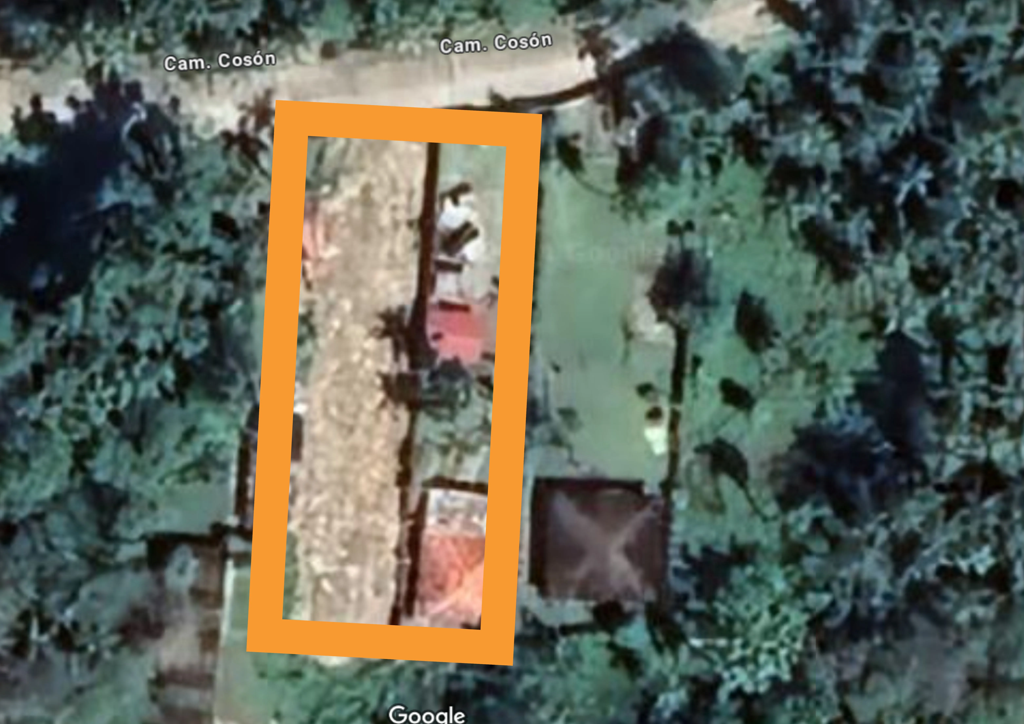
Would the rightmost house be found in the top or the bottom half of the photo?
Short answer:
bottom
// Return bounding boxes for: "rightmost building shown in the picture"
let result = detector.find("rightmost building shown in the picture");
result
[540,485,669,602]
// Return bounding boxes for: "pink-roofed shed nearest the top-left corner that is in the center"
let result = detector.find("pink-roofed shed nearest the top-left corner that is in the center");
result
[431,305,490,362]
